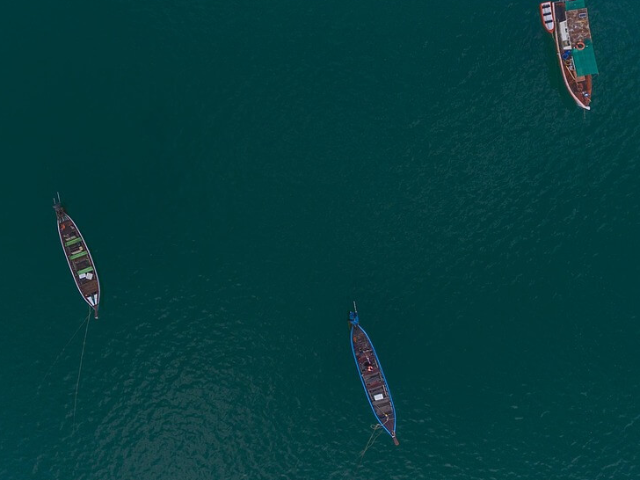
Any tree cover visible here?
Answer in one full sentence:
No, the picture contains no tree cover.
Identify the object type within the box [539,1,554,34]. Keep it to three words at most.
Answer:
boat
